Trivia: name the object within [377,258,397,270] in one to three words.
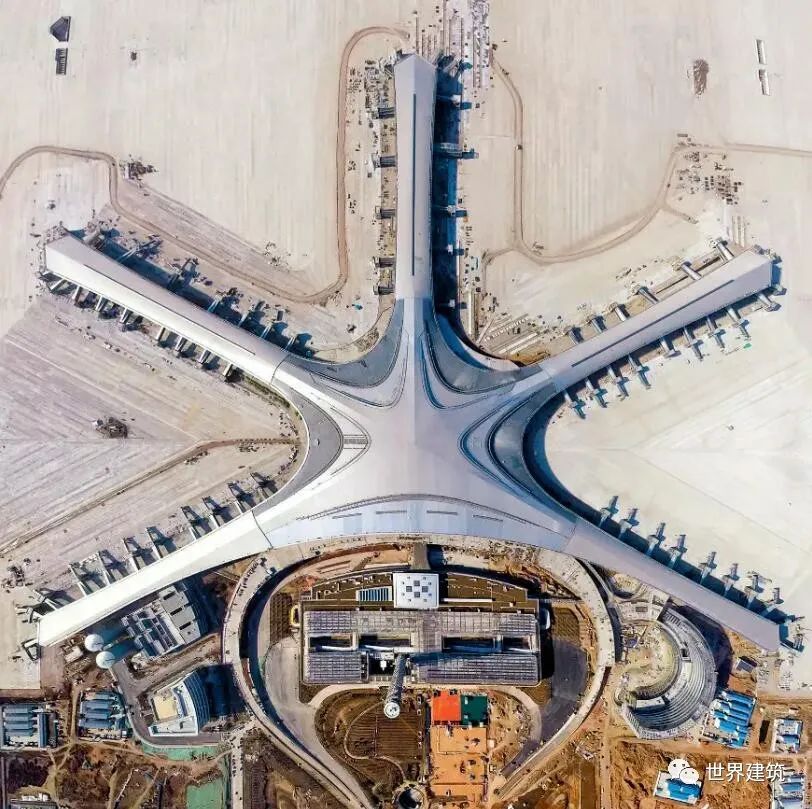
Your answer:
jet bridge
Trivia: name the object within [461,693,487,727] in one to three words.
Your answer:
shed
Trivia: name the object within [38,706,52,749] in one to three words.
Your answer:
building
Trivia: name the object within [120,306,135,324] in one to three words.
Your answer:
jet bridge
